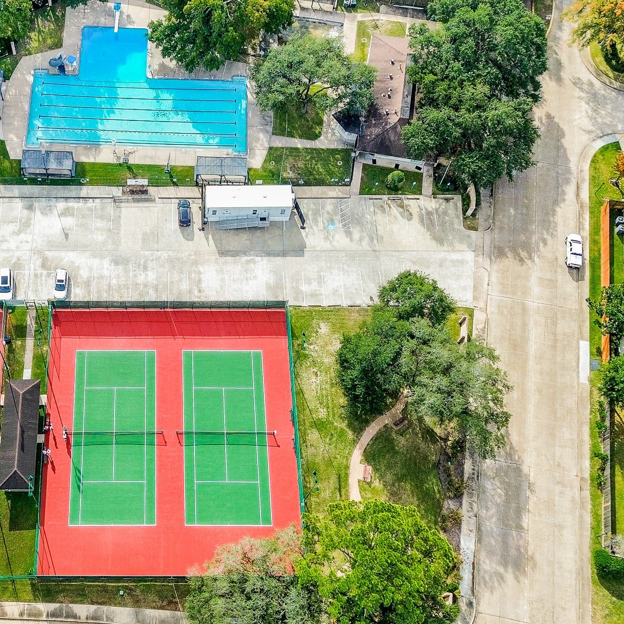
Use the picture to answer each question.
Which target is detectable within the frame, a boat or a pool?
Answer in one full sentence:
Of the two, only a pool appears.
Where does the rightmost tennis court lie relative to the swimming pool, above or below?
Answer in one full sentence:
The position of the rightmost tennis court is below the swimming pool.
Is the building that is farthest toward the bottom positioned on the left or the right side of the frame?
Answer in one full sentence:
It is on the left.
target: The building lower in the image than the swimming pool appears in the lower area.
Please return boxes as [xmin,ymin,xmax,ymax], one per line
[0,379,46,491]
